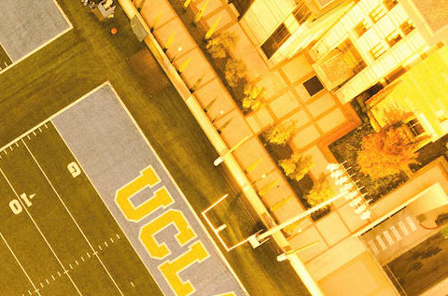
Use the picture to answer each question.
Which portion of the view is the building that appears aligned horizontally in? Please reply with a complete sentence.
Look in the top right portion of the view to spot the building that appears aligned horizontally.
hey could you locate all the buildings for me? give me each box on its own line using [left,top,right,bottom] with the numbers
[346,42,448,150]
[218,0,448,105]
